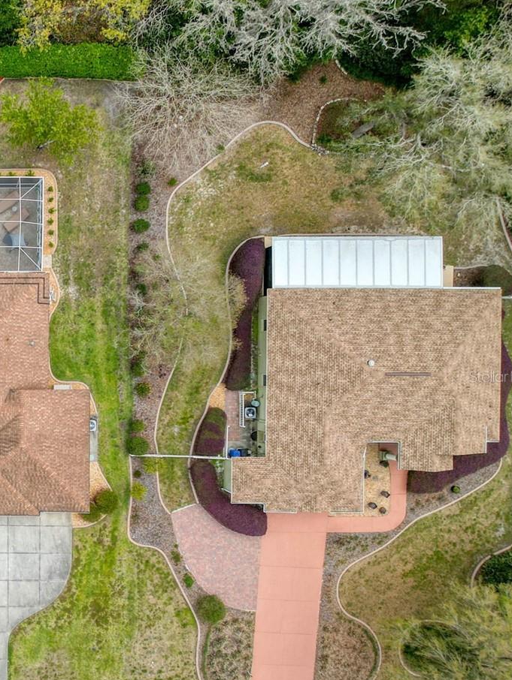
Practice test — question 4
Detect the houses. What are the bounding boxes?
[222,235,503,514]
[0,270,90,517]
